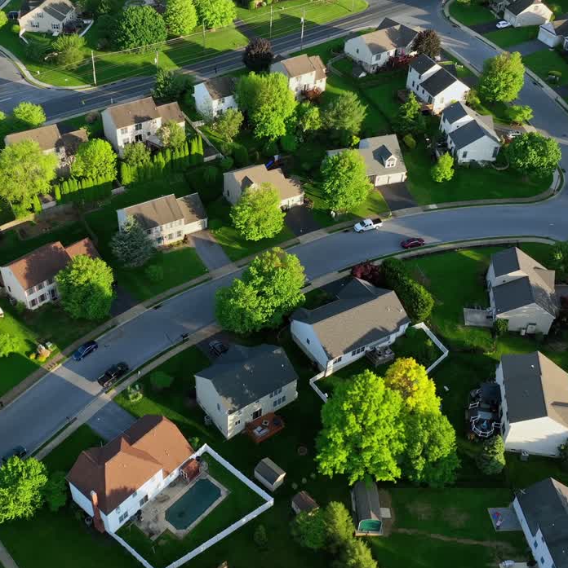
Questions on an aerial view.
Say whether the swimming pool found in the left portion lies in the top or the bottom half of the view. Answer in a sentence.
Seen from above, the swimming pool found in the left portion lies in the bottom half of the view.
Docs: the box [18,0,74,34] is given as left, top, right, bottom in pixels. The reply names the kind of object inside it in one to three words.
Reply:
house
